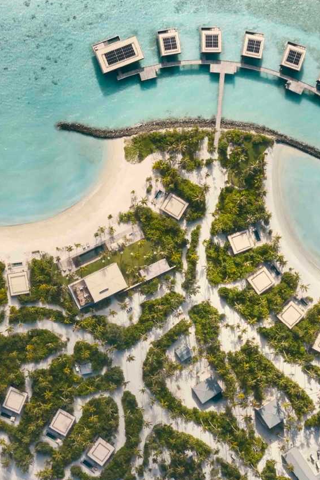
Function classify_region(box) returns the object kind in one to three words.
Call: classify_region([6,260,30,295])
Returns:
house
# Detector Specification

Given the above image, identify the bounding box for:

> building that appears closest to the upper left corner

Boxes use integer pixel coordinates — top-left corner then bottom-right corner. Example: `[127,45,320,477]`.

[93,35,144,74]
